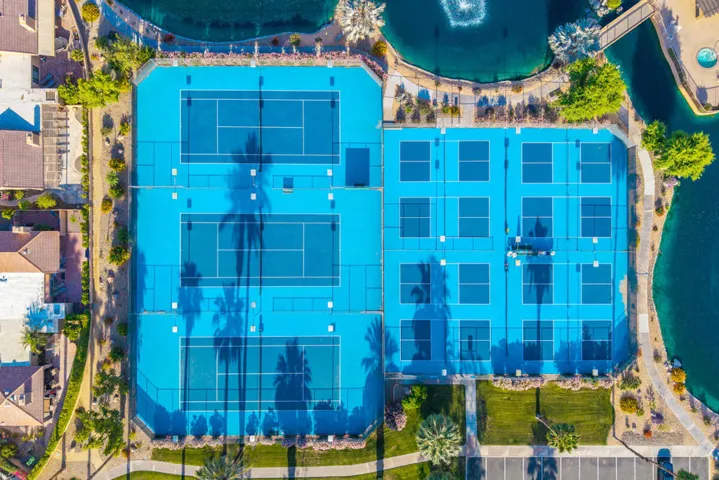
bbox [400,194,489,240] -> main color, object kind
blue sports court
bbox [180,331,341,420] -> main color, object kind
blue tennis court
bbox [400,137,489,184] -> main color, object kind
blue sports court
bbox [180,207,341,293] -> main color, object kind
blue tennis court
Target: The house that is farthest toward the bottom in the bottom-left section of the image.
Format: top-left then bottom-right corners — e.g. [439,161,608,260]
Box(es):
[0,365,51,425]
